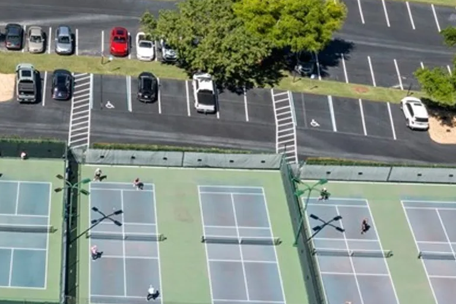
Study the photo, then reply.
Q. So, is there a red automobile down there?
Yes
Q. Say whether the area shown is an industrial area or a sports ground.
sports ground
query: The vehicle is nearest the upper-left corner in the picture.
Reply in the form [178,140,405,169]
[5,22,23,49]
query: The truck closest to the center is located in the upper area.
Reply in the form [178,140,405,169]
[194,73,217,110]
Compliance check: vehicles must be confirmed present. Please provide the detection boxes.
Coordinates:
[16,64,38,101]
[136,31,155,58]
[55,20,74,51]
[52,68,73,99]
[160,34,179,61]
[405,96,432,129]
[5,22,23,49]
[110,27,130,53]
[194,73,217,110]
[27,23,46,51]
[138,71,158,101]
